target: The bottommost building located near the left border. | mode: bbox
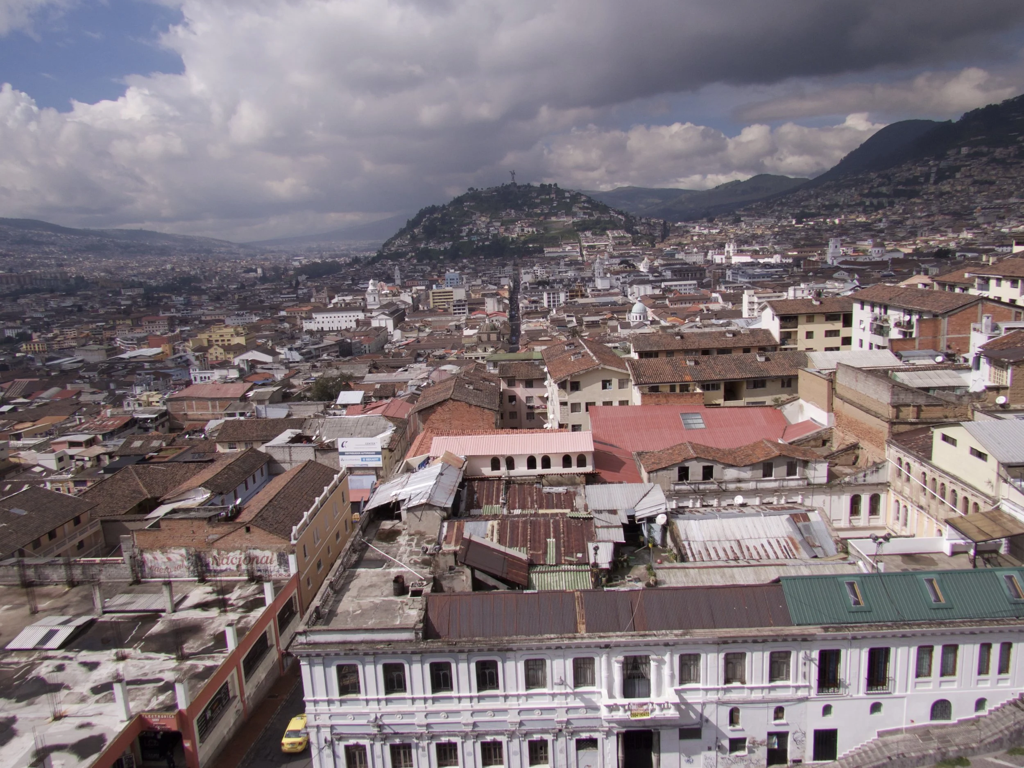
[0,571,302,768]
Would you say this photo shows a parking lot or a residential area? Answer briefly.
residential area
